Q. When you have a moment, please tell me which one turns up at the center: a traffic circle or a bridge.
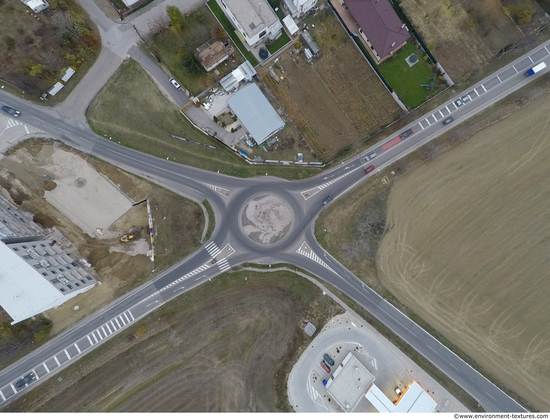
traffic circle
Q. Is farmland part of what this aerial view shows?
Yes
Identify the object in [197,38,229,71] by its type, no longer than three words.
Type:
house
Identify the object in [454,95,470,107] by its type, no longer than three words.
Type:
vehicle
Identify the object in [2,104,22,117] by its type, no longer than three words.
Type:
vehicle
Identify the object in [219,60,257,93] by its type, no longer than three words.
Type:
shed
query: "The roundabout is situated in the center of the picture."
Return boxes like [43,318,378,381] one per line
[238,191,295,248]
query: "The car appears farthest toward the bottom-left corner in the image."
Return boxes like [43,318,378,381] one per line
[16,372,37,388]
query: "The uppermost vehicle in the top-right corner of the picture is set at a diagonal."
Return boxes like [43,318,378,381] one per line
[524,61,547,78]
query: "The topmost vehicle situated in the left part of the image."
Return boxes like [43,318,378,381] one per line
[169,77,182,91]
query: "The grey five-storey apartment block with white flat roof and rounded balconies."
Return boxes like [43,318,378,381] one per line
[0,242,97,325]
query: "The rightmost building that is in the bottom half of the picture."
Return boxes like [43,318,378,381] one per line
[327,351,375,412]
